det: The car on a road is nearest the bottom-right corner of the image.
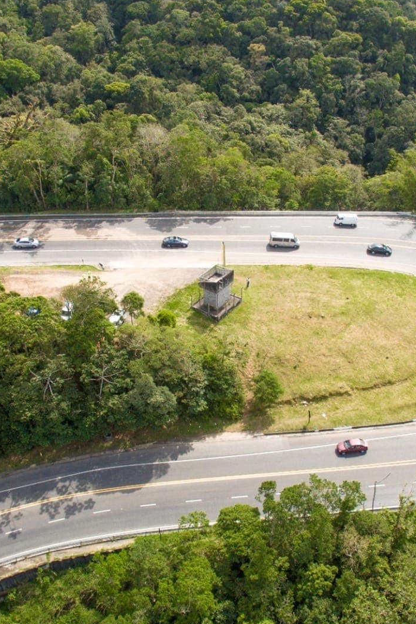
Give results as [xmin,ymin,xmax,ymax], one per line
[336,439,369,455]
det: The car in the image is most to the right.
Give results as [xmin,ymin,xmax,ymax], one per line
[367,242,393,255]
